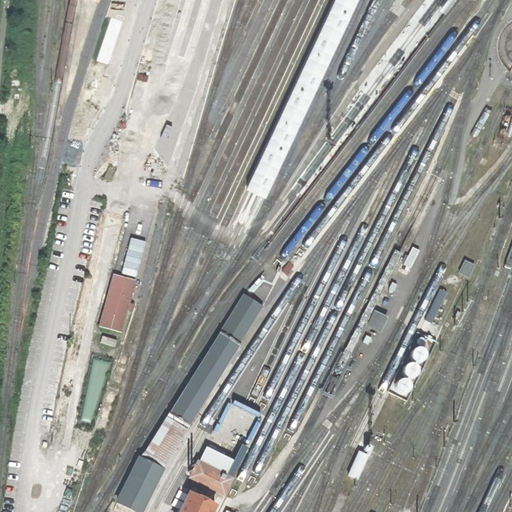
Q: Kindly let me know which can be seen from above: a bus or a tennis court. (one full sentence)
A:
Visible in the photo is a bus.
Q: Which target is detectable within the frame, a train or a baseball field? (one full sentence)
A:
Visible in the photo is a train.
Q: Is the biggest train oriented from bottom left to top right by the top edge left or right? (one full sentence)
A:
The biggest train oriented from bottom left to top right by the top edge appears in the right half of the scene.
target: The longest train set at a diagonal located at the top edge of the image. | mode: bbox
[394,24,477,131]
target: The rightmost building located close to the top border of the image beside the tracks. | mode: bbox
[247,0,360,198]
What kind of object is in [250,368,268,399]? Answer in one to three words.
vehicle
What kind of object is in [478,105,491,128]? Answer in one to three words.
rail car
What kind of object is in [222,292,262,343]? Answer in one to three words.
shed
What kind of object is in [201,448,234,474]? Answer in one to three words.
building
